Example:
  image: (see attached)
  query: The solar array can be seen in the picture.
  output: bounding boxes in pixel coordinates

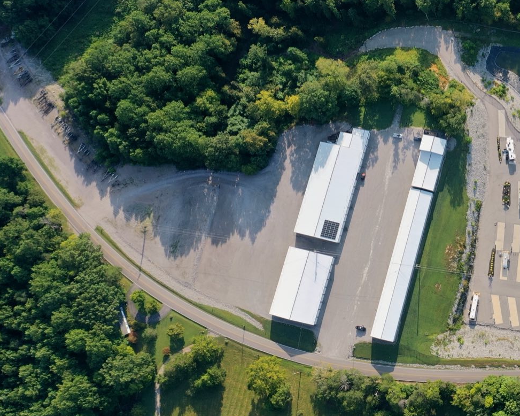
[321,221,339,239]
